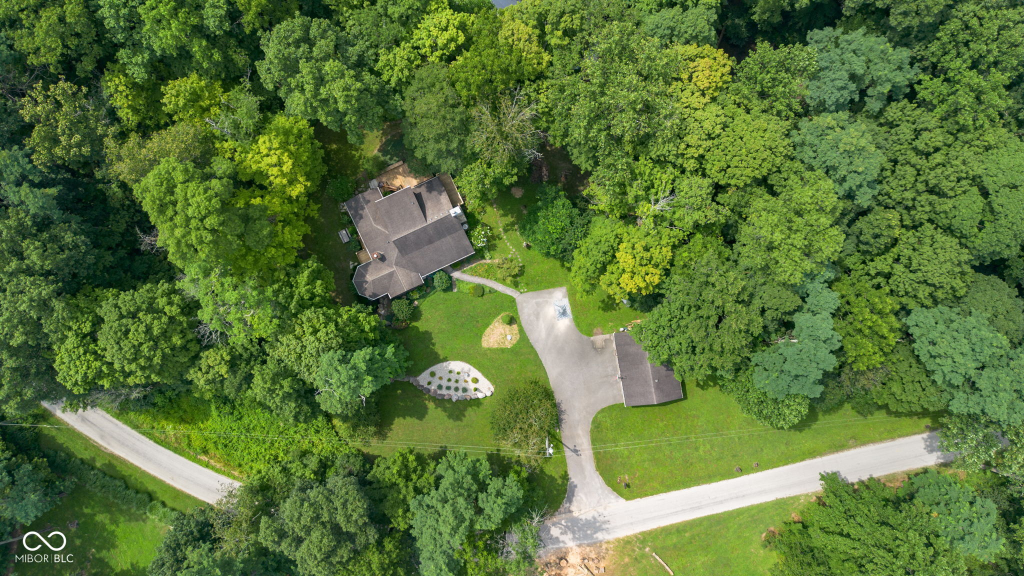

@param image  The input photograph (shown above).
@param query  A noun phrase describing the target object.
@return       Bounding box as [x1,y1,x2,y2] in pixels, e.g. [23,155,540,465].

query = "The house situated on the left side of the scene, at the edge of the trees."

[344,176,475,300]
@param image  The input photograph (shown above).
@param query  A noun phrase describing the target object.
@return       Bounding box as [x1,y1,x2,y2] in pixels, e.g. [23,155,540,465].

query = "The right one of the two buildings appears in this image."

[614,330,683,407]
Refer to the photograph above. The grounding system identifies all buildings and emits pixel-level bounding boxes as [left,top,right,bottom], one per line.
[344,176,475,300]
[614,330,683,407]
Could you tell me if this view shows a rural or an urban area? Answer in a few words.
rural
